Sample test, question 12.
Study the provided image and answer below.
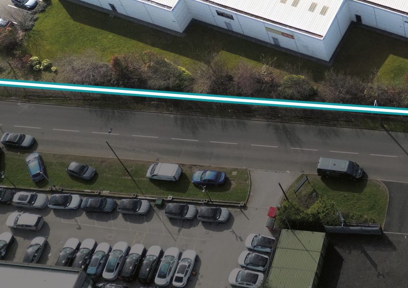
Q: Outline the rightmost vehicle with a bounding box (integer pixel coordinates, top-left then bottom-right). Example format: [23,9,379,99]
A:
[318,156,362,179]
